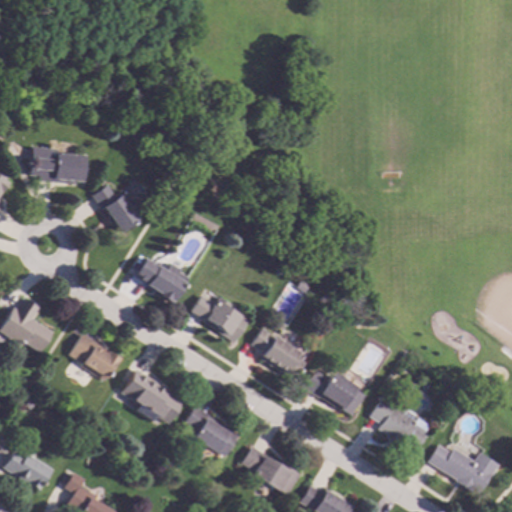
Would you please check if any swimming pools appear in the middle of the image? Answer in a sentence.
Yes, the scene does show a swimming pool in the middle of the image.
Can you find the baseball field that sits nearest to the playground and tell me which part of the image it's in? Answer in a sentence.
The baseball field that sits nearest to the playground is located in the right region of the scene.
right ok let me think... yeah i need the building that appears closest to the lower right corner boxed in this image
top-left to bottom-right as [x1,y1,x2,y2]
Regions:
[428,442,502,491]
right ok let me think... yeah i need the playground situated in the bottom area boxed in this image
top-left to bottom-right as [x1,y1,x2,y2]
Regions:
[431,310,480,364]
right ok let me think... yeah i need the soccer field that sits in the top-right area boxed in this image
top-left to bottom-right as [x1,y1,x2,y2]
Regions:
[330,0,512,258]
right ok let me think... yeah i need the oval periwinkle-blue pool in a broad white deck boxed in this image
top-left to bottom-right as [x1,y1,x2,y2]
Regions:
[156,230,207,268]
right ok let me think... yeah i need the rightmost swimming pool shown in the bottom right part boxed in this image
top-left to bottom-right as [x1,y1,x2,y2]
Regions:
[452,413,482,458]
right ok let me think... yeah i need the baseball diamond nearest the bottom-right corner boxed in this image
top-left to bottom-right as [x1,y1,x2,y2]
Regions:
[476,272,512,349]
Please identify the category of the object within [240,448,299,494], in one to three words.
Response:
house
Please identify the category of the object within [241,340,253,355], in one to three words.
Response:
vehicle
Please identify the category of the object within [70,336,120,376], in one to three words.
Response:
house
